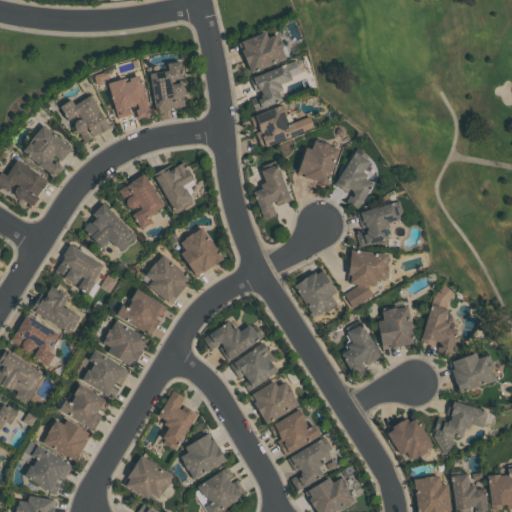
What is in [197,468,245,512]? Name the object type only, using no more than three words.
house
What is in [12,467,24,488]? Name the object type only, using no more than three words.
swimming pool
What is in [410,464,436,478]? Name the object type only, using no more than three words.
swimming pool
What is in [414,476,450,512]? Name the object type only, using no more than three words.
house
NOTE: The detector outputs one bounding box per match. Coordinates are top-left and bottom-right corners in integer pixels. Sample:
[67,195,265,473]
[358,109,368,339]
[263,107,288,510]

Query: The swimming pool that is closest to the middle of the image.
[186,215,212,230]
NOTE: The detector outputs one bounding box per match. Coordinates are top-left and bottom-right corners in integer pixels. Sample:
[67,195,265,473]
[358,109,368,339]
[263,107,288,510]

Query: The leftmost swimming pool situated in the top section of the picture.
[13,130,29,148]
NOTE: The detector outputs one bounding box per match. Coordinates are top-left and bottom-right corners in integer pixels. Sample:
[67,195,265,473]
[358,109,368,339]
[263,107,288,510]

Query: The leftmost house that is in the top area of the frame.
[0,160,46,206]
